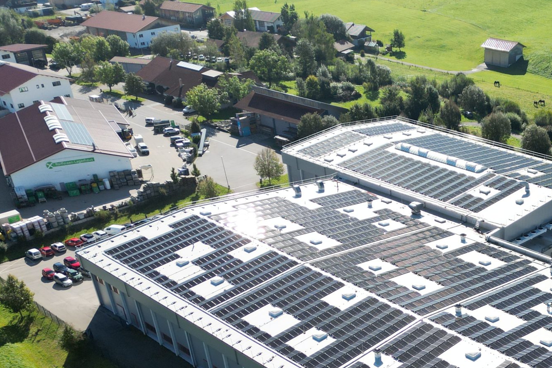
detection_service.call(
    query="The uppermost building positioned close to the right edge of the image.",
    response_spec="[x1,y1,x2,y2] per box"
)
[481,38,544,67]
